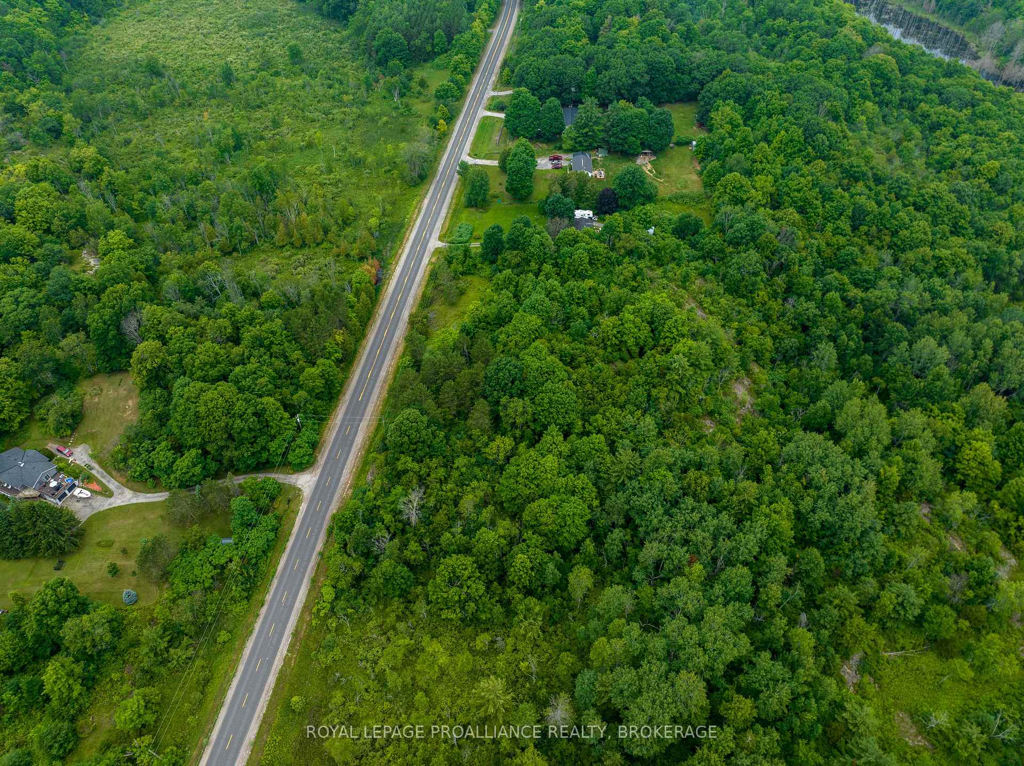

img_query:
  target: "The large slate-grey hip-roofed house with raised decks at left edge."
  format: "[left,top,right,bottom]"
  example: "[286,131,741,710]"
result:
[0,447,87,505]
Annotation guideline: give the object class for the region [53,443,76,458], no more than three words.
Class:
car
